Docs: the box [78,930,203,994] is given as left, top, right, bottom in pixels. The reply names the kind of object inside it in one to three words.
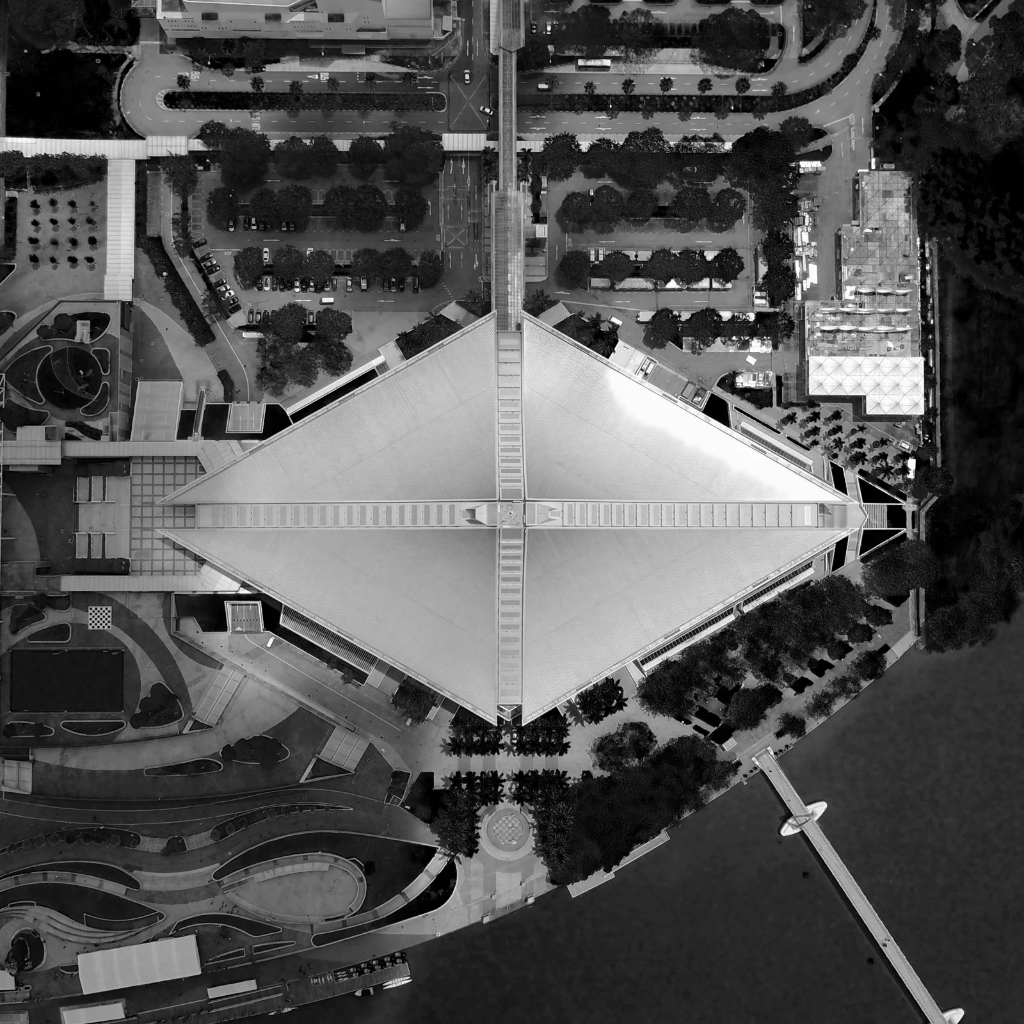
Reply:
tent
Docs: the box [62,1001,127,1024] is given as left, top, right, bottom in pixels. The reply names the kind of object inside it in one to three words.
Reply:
tent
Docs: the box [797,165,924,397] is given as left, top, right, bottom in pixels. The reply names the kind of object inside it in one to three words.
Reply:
building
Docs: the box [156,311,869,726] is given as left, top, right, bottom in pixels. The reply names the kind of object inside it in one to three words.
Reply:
stadium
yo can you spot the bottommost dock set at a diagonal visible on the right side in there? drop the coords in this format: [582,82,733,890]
[777,798,827,833]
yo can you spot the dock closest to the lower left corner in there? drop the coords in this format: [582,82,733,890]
[203,959,411,1024]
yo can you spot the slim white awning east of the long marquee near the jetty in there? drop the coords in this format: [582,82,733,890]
[207,977,257,999]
